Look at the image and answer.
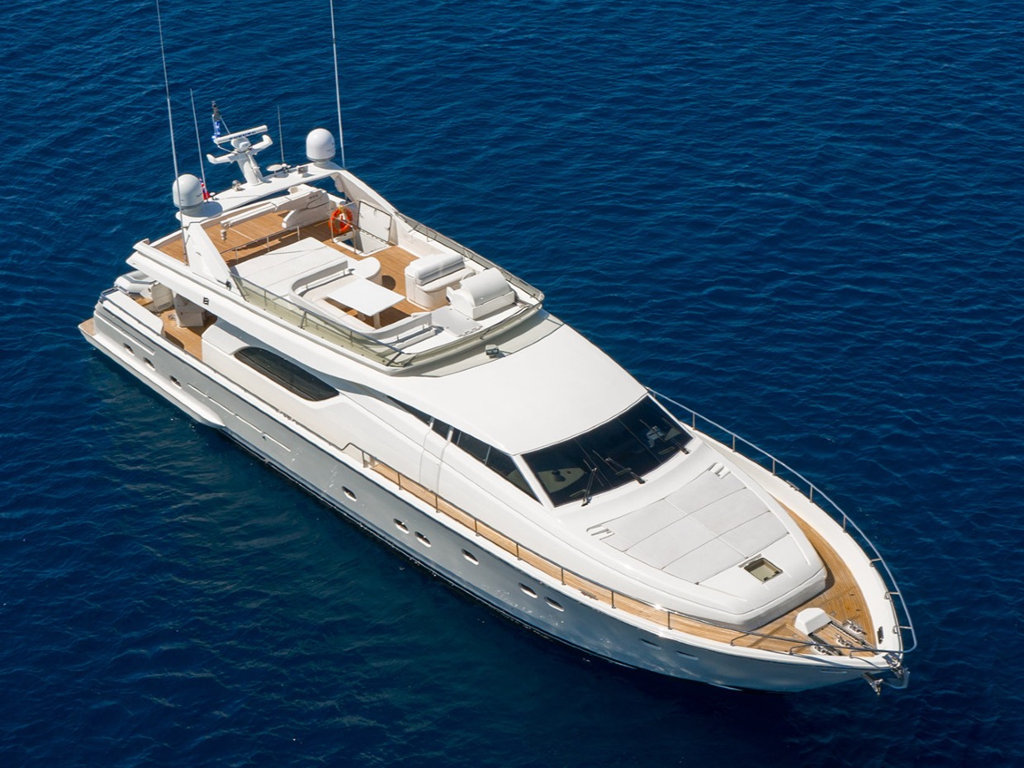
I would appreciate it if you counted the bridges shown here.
0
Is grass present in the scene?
No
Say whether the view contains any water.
Yes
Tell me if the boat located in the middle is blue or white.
white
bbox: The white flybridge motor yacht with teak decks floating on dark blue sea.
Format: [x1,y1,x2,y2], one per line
[78,0,921,697]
